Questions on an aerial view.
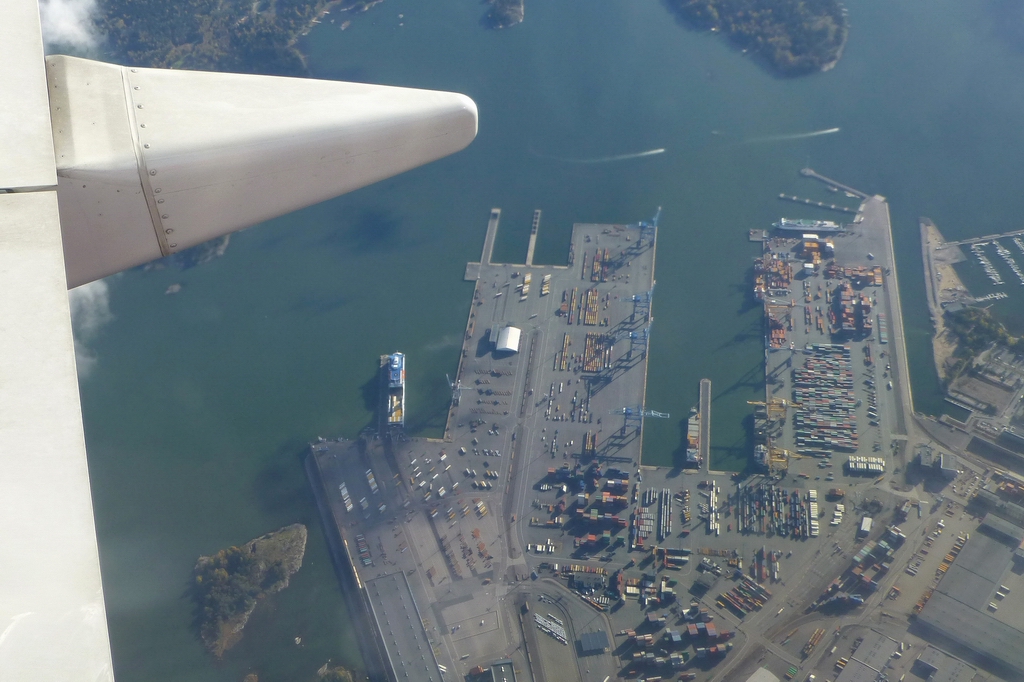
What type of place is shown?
port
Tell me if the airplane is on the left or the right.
left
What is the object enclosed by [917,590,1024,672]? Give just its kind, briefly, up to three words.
building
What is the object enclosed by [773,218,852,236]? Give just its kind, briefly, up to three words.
ship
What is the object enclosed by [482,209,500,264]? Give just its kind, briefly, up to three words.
pier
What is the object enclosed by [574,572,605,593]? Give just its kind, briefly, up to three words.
building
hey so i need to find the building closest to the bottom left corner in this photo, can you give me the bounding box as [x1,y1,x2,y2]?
[365,571,443,682]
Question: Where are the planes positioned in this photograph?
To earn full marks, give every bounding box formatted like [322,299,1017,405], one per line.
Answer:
[0,0,478,682]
